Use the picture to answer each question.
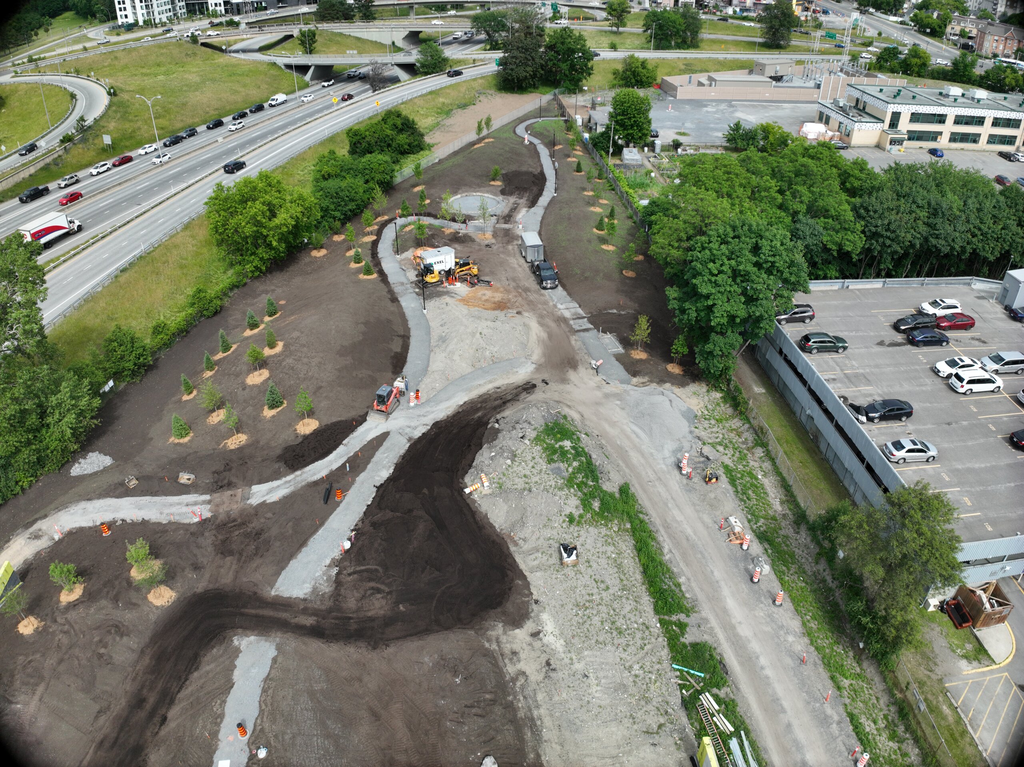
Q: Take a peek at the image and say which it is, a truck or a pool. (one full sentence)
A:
There is a truck in the scene.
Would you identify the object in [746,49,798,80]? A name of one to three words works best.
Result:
shed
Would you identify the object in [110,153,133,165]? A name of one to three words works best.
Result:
vehicle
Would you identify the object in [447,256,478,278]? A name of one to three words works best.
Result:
work vehicle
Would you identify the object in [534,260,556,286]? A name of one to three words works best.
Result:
truck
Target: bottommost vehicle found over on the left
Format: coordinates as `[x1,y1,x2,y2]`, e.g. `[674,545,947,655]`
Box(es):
[369,386,404,422]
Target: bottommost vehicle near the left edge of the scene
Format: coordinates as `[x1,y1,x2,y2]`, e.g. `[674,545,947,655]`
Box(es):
[19,214,80,248]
